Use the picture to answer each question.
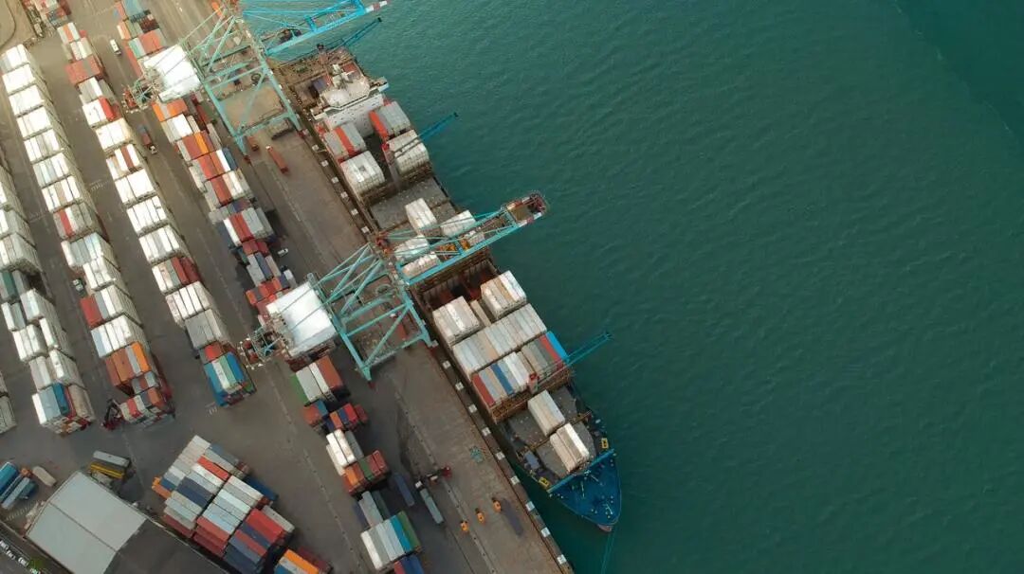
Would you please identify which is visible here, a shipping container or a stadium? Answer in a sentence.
The one in the frame is a shipping container.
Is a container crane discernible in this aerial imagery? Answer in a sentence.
Yes, the photo shows a container crane.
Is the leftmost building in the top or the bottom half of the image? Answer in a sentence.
You can find the leftmost building in the bottom half.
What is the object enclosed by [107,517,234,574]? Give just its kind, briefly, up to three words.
shed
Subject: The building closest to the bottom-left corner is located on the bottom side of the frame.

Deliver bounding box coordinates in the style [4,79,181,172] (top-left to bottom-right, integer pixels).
[21,470,149,574]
